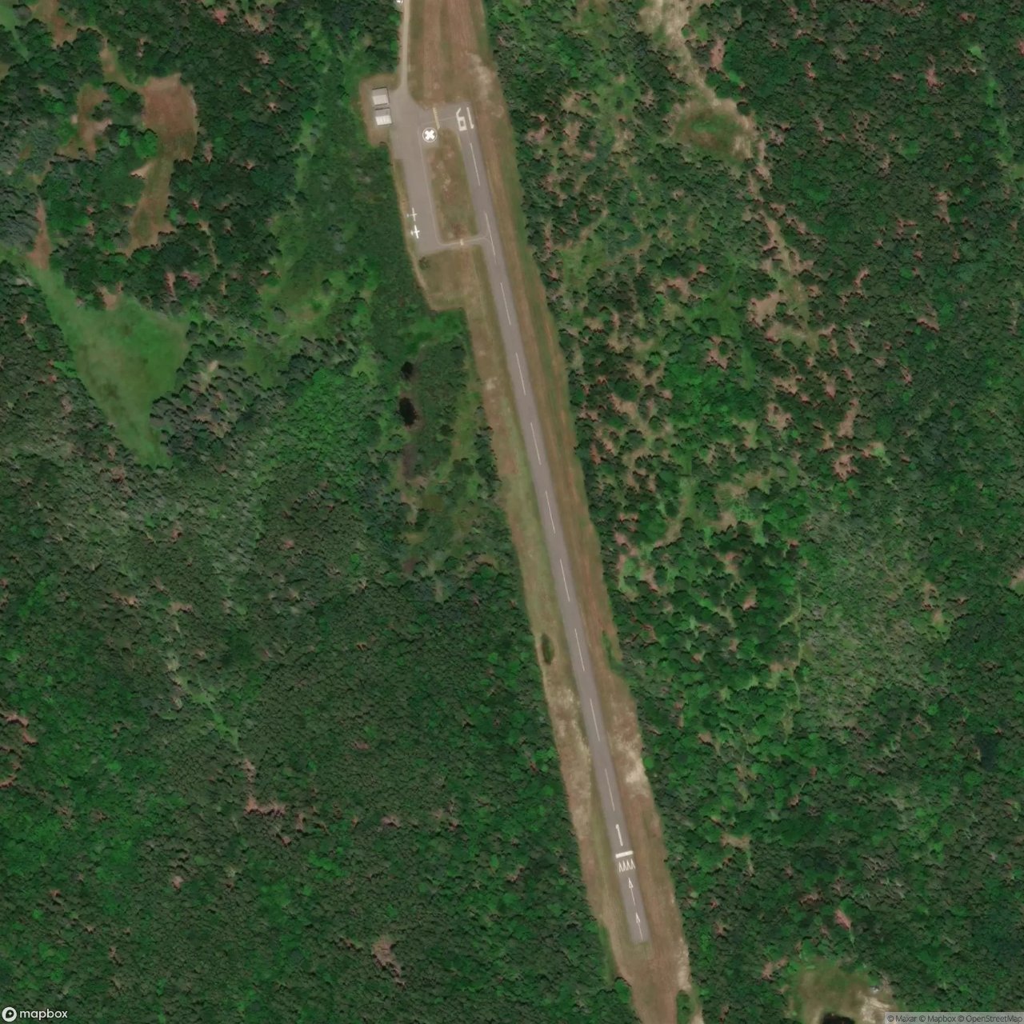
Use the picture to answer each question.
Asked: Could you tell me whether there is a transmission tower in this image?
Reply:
No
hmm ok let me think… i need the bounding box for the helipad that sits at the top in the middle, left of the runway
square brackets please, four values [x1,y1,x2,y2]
[422,127,437,142]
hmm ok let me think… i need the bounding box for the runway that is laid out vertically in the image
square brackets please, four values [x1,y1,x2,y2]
[453,102,650,943]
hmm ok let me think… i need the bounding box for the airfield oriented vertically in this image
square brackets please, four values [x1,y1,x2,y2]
[360,0,705,1024]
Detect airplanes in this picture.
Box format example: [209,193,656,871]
[408,208,417,221]
[410,225,419,237]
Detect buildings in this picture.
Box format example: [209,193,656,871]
[373,88,389,106]
[376,108,393,126]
